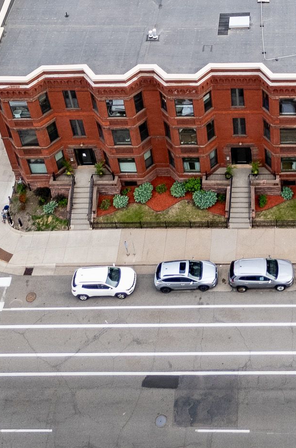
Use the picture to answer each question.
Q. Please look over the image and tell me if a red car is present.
No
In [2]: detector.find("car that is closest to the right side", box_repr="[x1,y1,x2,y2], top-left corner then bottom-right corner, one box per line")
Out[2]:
[227,257,296,296]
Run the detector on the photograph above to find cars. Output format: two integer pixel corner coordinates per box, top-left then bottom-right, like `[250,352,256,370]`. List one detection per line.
[227,257,296,296]
[152,257,222,296]
[70,262,142,300]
